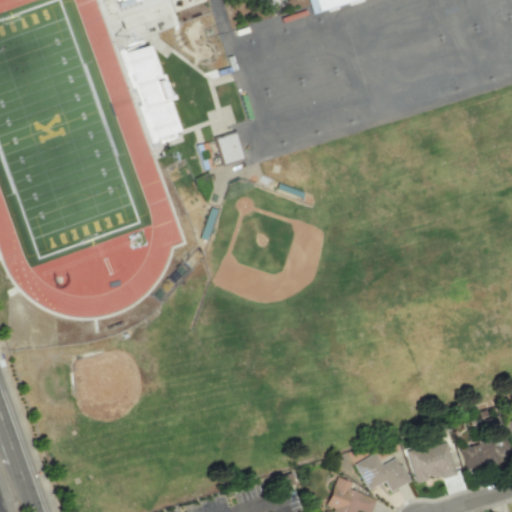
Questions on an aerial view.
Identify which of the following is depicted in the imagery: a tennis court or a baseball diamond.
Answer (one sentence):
The one in the frame is a baseball diamond.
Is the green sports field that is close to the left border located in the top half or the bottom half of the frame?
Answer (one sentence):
Seen from above, the green sports field that is close to the left border lies in the top half of the view.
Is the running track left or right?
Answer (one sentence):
The running track sits on the left side.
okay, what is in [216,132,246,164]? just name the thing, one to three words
building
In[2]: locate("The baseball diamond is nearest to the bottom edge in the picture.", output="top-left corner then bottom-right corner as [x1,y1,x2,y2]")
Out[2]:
[75,350,142,420]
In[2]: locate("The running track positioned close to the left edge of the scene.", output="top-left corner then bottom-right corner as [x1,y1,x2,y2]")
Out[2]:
[0,0,188,320]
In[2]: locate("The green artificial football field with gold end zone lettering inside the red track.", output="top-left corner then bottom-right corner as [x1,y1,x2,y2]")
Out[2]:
[0,0,152,268]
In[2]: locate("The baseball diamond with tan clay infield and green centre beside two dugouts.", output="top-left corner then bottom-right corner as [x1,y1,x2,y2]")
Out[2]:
[213,195,324,303]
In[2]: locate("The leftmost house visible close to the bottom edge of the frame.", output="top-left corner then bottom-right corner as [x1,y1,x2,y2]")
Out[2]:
[326,474,380,512]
